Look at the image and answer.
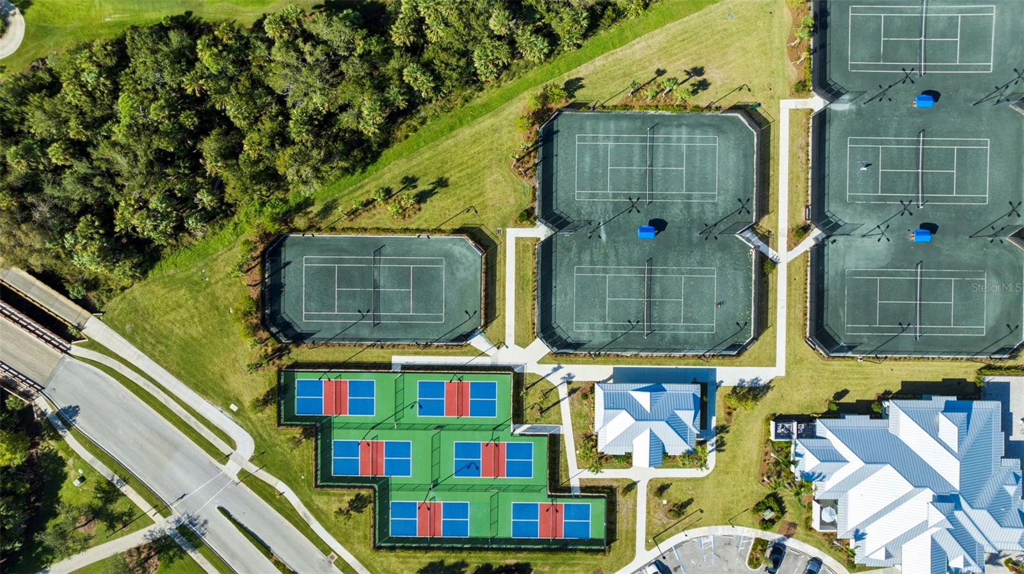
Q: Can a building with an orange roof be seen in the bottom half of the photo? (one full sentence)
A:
No, in the bottom half of the photo there is no building with an orange roof.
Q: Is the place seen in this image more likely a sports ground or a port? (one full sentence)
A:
The picture captures a sports ground.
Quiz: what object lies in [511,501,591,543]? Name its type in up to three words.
sports court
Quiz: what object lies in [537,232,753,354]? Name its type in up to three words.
tennis court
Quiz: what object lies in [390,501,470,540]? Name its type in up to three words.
sports court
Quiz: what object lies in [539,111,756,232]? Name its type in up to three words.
tennis court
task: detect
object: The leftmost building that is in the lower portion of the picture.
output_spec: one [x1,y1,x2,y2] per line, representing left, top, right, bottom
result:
[594,383,701,470]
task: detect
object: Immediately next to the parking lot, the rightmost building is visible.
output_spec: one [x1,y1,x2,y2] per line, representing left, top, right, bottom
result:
[791,395,1024,574]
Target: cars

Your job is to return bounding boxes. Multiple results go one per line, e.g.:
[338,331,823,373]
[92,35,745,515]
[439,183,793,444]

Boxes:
[646,565,661,574]
[768,544,786,574]
[805,558,822,574]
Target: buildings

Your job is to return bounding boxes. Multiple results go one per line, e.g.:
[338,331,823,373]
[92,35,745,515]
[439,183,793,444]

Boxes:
[791,395,1024,574]
[594,383,701,470]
